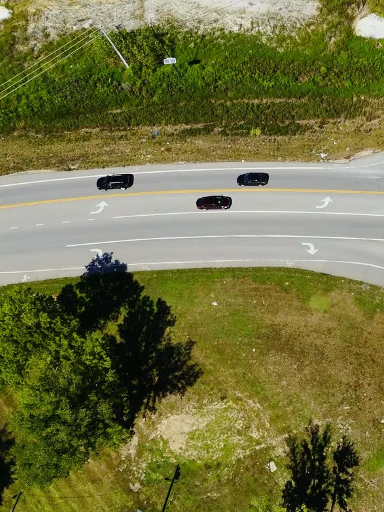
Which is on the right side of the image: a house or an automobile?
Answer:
automobile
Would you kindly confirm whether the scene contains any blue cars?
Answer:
No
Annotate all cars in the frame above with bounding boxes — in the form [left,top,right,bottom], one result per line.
[94,172,134,192]
[193,194,231,212]
[236,171,269,187]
